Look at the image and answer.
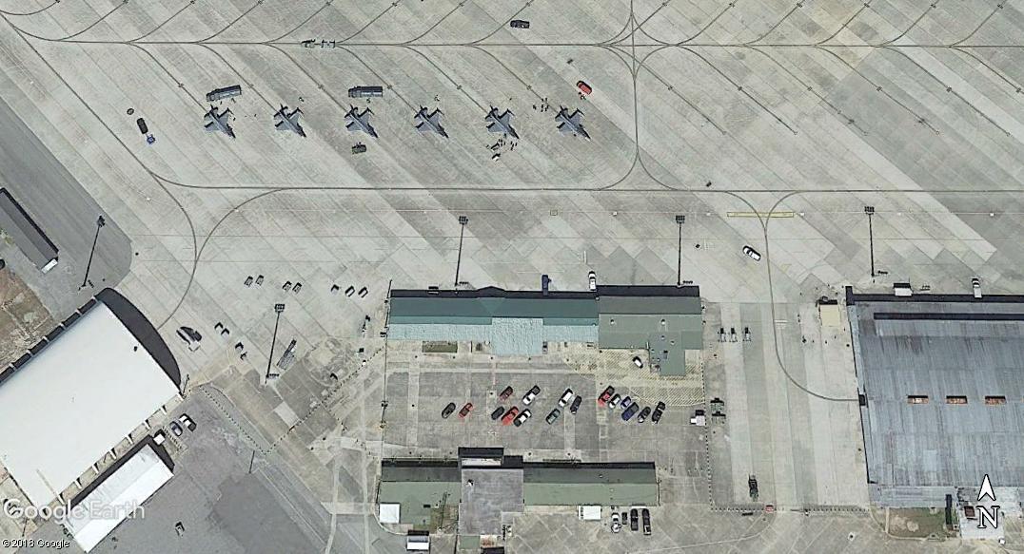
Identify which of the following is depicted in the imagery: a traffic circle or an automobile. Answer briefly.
automobile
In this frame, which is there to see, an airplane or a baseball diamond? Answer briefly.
airplane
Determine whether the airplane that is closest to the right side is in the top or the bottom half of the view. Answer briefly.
top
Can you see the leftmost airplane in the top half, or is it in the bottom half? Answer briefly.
top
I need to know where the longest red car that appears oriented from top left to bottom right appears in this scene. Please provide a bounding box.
[577,80,593,95]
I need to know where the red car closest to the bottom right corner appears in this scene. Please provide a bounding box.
[597,386,615,406]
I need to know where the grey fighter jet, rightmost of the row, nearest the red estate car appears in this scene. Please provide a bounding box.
[557,108,590,140]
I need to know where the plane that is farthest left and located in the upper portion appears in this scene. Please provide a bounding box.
[204,107,235,138]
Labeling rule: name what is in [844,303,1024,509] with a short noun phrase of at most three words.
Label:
hangar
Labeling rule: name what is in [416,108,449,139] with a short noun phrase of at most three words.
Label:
airplane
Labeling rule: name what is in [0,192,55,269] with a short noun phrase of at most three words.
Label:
shed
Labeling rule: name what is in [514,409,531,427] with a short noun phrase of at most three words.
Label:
car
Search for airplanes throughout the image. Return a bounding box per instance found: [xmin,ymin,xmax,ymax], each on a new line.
[487,108,519,139]
[346,107,377,138]
[557,108,590,140]
[275,107,307,139]
[416,108,449,139]
[204,107,235,138]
